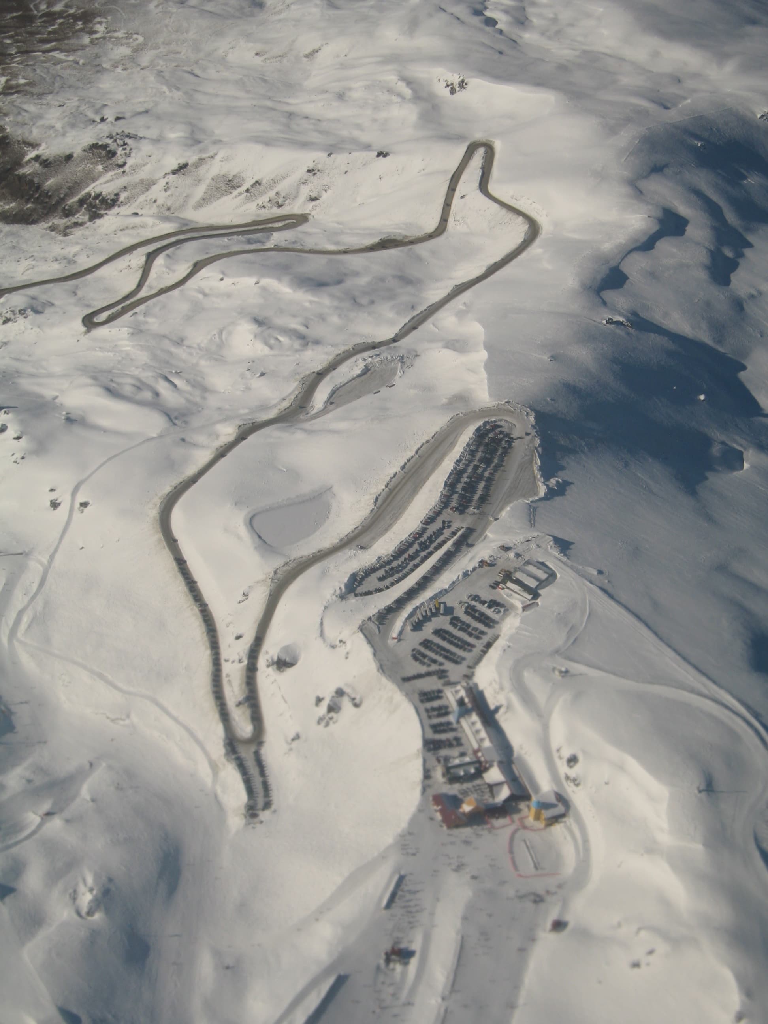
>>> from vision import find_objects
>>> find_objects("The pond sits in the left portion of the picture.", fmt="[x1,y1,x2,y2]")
[250,495,330,547]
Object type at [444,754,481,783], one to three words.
building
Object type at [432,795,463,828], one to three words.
house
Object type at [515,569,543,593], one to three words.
shed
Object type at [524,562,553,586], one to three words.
shed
